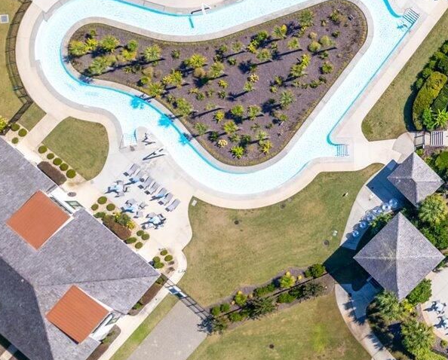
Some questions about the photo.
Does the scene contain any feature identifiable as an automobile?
No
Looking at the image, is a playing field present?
No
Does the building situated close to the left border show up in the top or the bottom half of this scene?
bottom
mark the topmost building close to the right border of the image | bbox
[387,153,443,205]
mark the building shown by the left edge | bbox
[0,131,165,360]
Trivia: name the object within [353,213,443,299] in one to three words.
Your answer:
building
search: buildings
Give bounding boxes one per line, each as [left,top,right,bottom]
[353,213,443,299]
[387,153,443,205]
[0,131,165,360]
